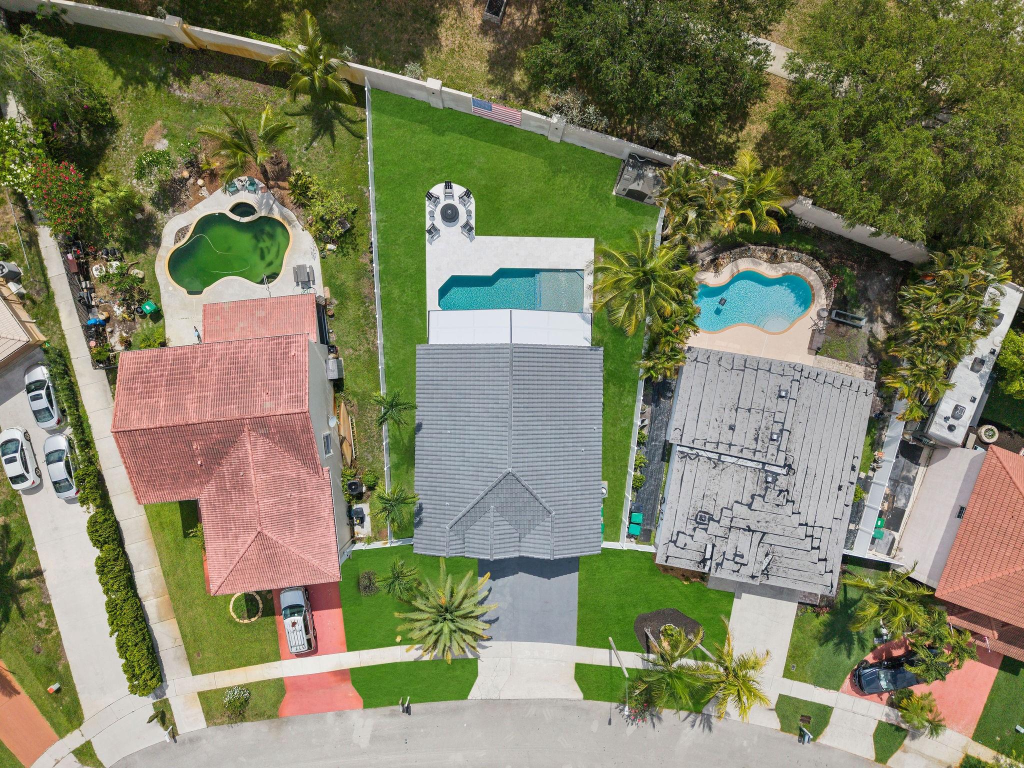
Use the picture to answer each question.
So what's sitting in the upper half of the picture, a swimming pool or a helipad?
swimming pool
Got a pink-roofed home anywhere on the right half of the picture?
Yes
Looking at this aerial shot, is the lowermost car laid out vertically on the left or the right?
left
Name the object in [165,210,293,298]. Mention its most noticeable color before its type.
green swimming pool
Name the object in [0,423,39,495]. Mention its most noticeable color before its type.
white car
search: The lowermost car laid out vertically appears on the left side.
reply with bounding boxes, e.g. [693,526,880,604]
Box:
[276,585,315,659]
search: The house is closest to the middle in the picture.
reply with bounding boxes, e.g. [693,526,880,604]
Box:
[413,343,604,561]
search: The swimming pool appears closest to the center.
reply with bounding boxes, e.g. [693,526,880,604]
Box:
[439,268,584,312]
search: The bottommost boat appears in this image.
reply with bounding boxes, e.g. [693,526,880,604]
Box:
[339,403,353,465]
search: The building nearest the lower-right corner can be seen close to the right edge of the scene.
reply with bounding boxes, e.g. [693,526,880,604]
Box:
[893,444,1024,660]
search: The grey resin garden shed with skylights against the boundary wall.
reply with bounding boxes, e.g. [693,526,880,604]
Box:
[608,158,661,209]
